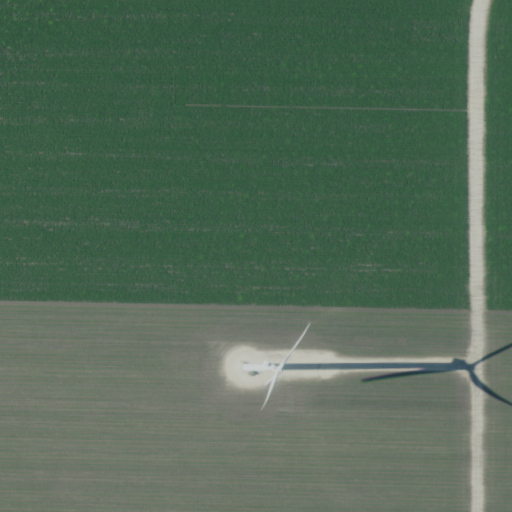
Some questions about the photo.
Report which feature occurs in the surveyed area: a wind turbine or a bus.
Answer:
wind turbine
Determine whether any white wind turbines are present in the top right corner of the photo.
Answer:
No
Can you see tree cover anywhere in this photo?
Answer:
No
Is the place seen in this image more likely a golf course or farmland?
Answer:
farmland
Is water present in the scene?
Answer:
No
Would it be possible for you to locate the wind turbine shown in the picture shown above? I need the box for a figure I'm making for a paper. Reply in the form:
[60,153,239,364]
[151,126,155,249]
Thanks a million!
[241,323,310,412]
